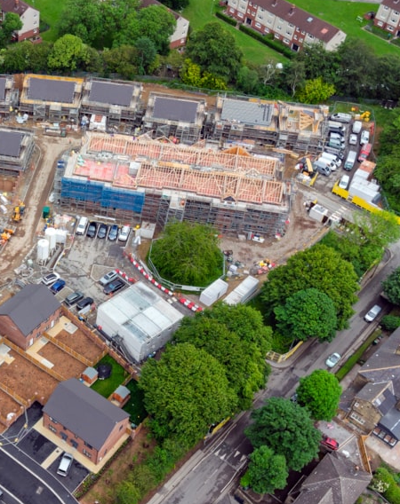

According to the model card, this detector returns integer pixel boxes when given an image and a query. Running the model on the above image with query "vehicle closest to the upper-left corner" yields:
[11,201,26,227]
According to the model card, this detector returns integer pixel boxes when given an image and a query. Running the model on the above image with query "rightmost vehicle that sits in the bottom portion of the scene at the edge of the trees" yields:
[363,303,383,323]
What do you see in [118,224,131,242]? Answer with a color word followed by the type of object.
white vehicle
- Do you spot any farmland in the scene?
No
